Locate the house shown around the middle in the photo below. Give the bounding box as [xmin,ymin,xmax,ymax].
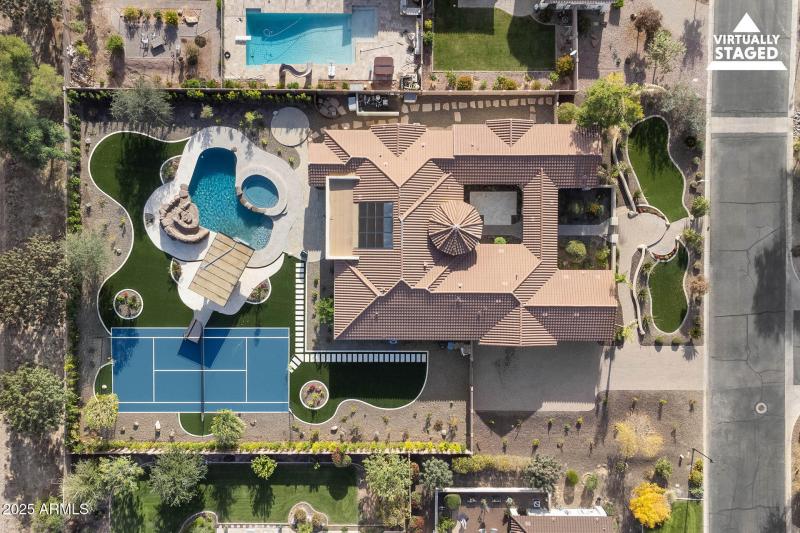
[309,119,619,346]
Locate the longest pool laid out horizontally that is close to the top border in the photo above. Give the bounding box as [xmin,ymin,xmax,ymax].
[245,5,379,66]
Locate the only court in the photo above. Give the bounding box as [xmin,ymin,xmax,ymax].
[112,329,289,412]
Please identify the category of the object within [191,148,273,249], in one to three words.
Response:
swimming pool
